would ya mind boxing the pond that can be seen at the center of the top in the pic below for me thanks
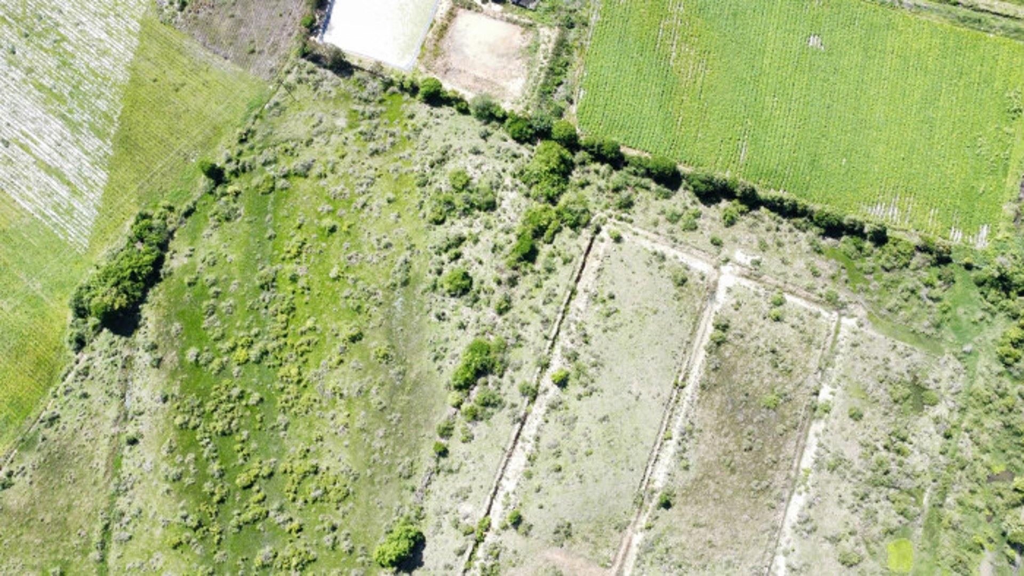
[424,9,536,109]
